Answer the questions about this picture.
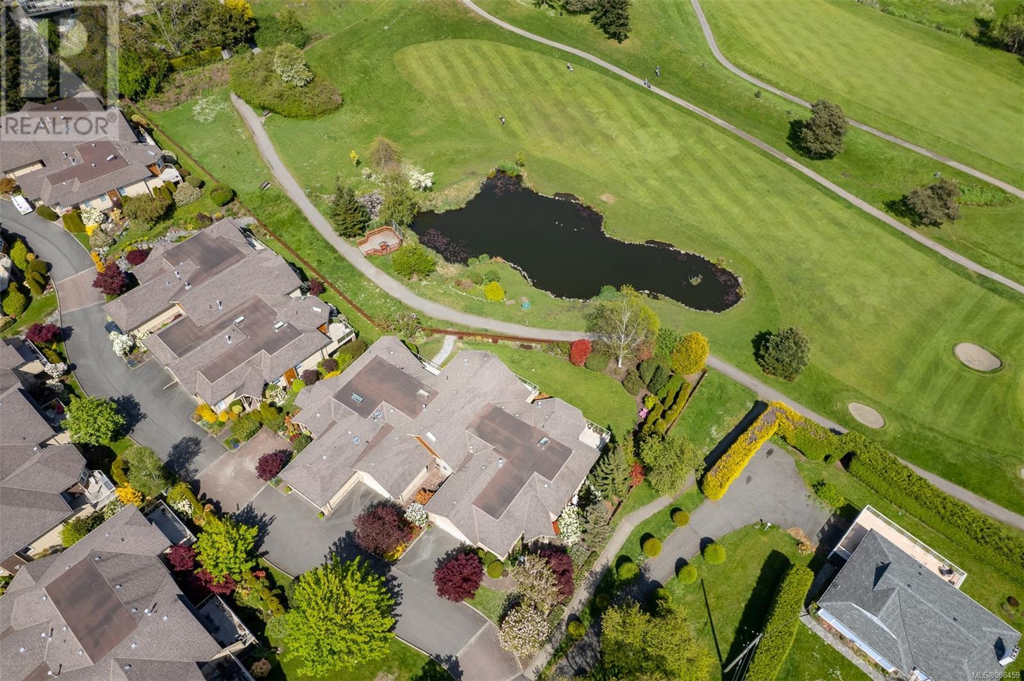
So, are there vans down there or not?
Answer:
Yes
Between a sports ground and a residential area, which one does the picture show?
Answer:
residential area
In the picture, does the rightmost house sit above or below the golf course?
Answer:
below it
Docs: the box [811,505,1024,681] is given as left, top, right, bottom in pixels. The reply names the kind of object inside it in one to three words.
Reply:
house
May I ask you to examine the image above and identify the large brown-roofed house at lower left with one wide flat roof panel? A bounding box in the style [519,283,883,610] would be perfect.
[0,499,257,681]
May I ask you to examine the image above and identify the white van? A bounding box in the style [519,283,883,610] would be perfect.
[9,189,37,222]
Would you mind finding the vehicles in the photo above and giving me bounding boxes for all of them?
[9,189,37,222]
[100,319,120,336]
